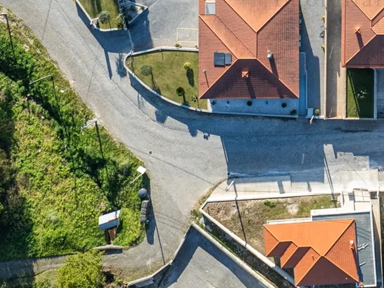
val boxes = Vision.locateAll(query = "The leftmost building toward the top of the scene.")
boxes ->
[199,0,301,99]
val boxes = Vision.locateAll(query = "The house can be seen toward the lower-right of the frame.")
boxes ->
[263,207,377,287]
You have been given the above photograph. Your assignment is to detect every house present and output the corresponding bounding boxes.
[343,0,384,67]
[199,0,301,99]
[263,207,377,287]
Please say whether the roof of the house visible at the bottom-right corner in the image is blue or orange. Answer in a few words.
orange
